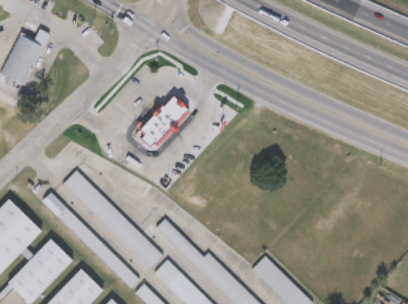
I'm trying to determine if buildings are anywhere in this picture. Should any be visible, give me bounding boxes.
[2,28,50,84]
[46,196,141,288]
[254,256,313,304]
[135,282,168,304]
[65,170,164,268]
[136,97,188,144]
[46,268,104,304]
[156,218,266,304]
[156,258,216,304]
[0,199,43,275]
[7,238,74,304]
